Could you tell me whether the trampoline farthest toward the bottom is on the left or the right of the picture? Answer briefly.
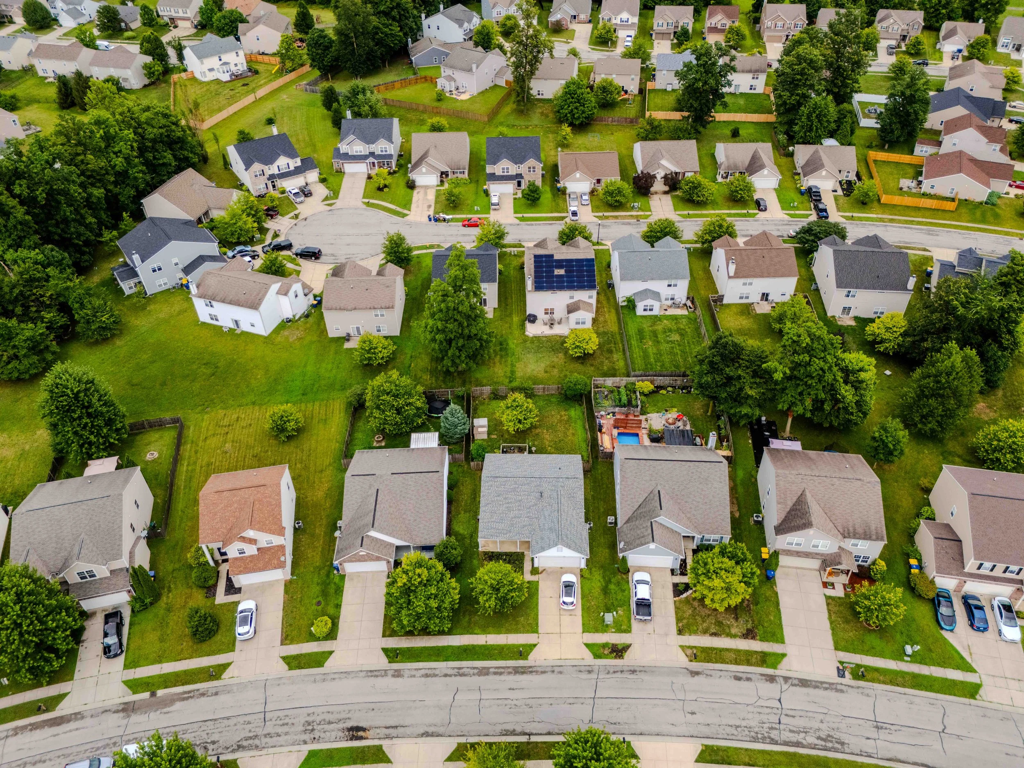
right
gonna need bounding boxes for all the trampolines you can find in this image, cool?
[824,432,858,454]
[423,389,452,422]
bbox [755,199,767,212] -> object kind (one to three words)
vehicle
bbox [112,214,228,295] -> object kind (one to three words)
house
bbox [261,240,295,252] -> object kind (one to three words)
vehicle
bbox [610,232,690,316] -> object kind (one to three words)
house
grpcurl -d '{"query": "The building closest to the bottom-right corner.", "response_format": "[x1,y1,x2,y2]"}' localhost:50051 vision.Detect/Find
[914,465,1024,613]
